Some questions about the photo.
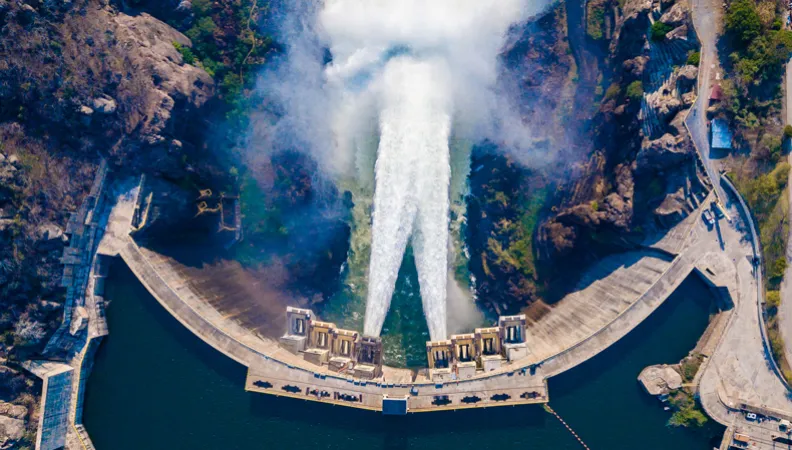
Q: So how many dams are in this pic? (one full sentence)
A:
The photo contains exactly 1 dam.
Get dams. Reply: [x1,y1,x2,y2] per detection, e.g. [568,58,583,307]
[104,197,712,414]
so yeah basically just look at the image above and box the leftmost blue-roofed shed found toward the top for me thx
[708,118,736,148]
